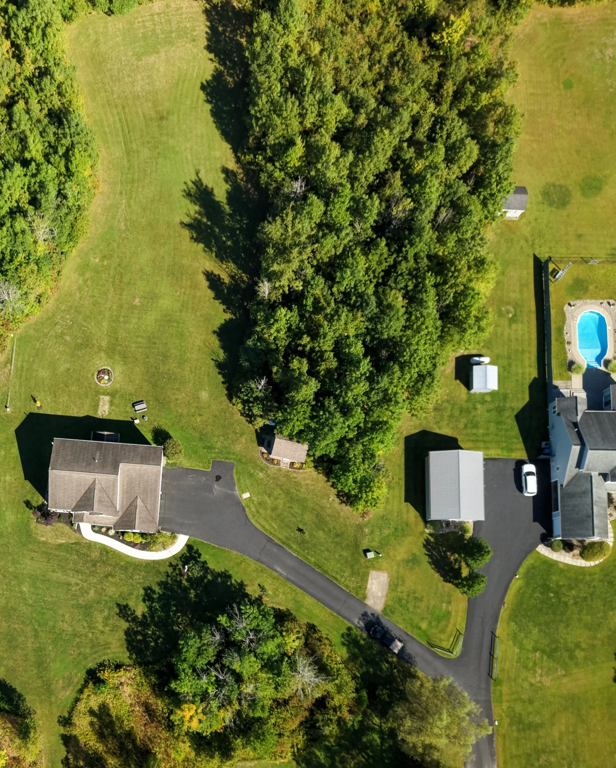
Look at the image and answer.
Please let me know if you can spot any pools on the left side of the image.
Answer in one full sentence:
No, there's no pool to be seen on the left side of the image.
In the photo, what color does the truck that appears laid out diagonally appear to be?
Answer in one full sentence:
In this view, the truck that appears laid out diagonally is black.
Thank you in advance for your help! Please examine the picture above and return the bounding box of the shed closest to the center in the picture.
[271,432,309,462]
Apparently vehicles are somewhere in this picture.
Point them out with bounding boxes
[522,465,540,497]
[366,619,406,655]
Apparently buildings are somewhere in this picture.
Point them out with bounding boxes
[271,432,309,462]
[503,186,533,218]
[425,450,485,521]
[46,431,165,534]
[470,365,499,392]
[550,385,616,540]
